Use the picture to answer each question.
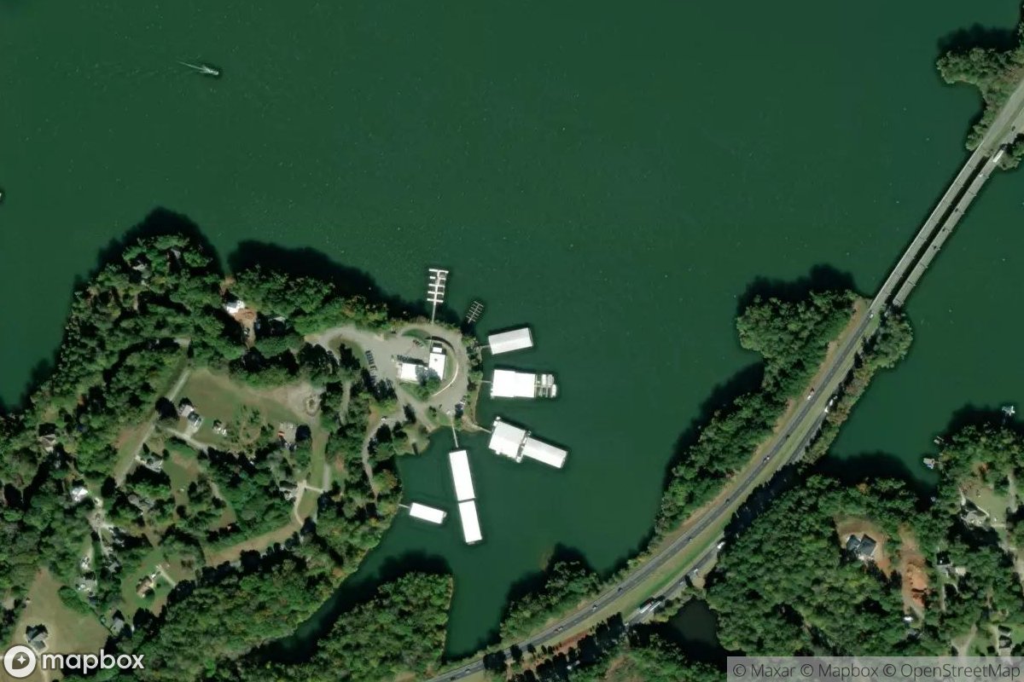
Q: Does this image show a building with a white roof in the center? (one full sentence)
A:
Yes, there is a building with a white roof in the center.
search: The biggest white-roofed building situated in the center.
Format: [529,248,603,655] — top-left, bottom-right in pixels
[397,347,446,383]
